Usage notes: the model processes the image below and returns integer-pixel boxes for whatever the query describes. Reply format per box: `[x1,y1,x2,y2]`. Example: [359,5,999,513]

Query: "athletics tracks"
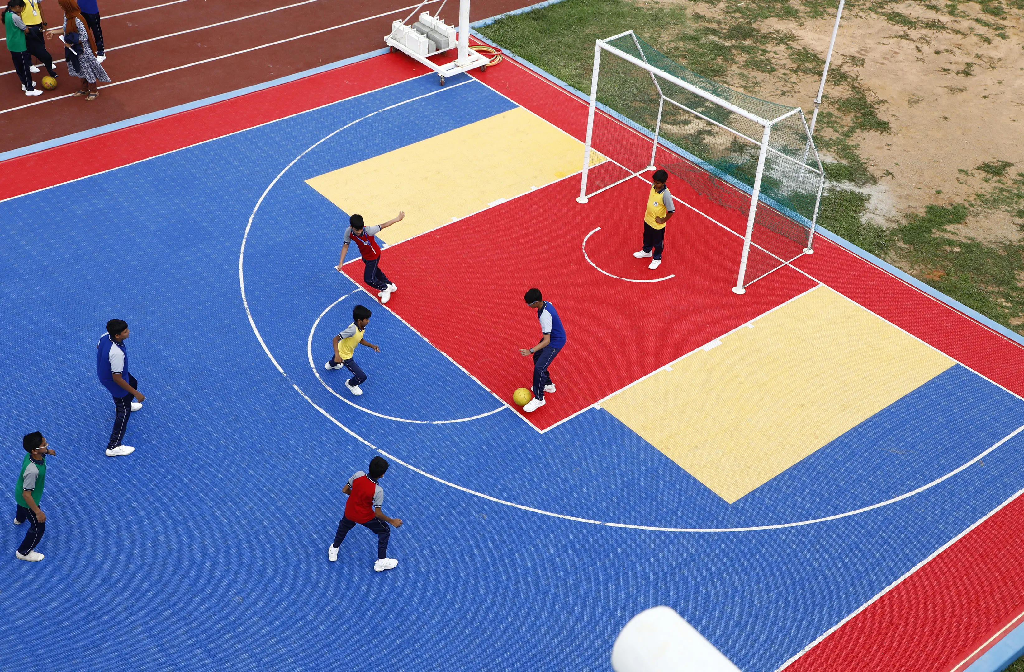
[0,0,534,150]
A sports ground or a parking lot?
sports ground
